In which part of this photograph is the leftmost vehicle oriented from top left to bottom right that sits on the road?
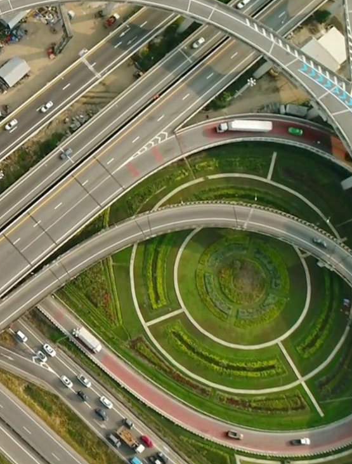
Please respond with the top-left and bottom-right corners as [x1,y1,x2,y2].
[13,328,29,344]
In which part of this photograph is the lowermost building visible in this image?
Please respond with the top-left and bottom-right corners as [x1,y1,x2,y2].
[0,57,30,90]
